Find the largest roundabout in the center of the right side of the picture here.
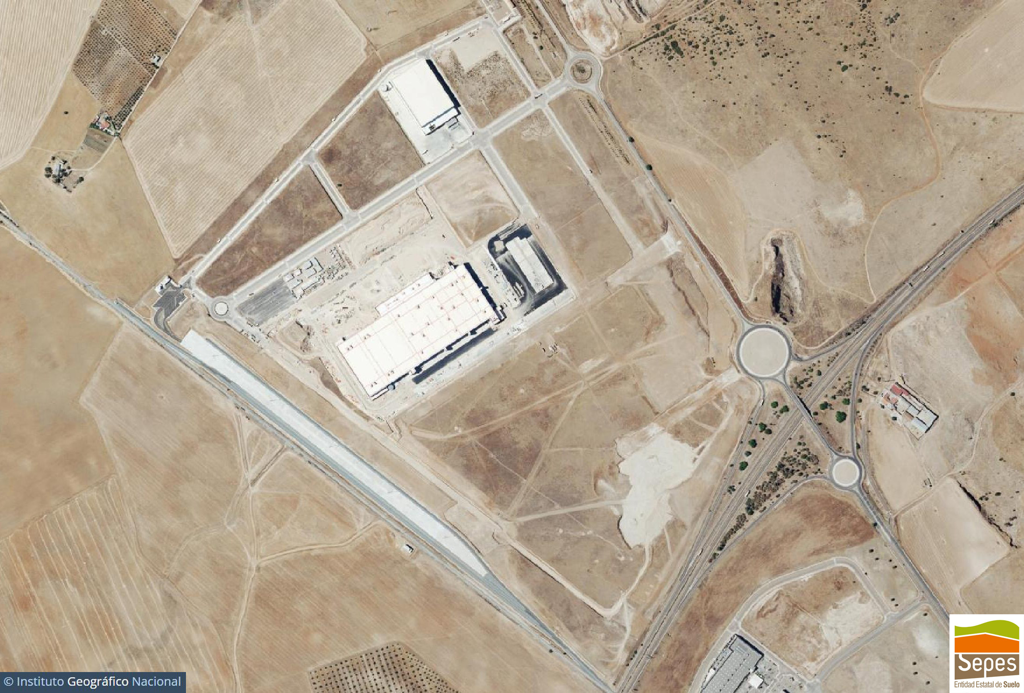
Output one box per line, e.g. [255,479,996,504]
[736,324,793,381]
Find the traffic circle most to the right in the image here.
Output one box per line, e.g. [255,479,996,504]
[829,455,864,490]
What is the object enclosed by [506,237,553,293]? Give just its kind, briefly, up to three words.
building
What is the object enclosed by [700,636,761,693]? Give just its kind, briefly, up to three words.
building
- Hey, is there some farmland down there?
Yes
